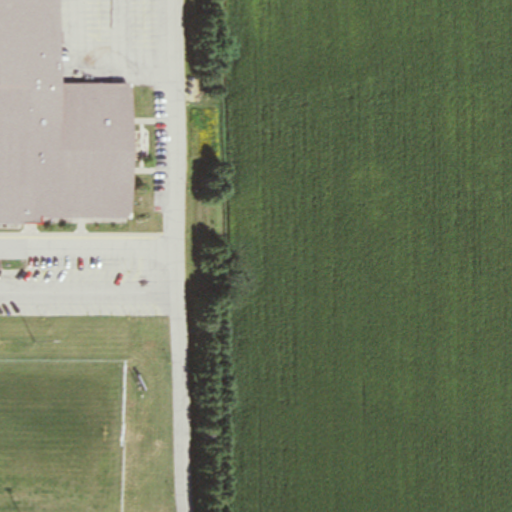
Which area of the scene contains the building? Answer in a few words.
top left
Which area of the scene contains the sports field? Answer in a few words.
bottom left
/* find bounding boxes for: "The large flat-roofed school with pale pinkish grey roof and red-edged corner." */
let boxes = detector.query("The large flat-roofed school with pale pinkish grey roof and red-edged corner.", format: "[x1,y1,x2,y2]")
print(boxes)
[0,0,134,224]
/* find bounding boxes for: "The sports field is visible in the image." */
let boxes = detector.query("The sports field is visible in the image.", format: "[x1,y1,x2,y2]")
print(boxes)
[0,360,124,512]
